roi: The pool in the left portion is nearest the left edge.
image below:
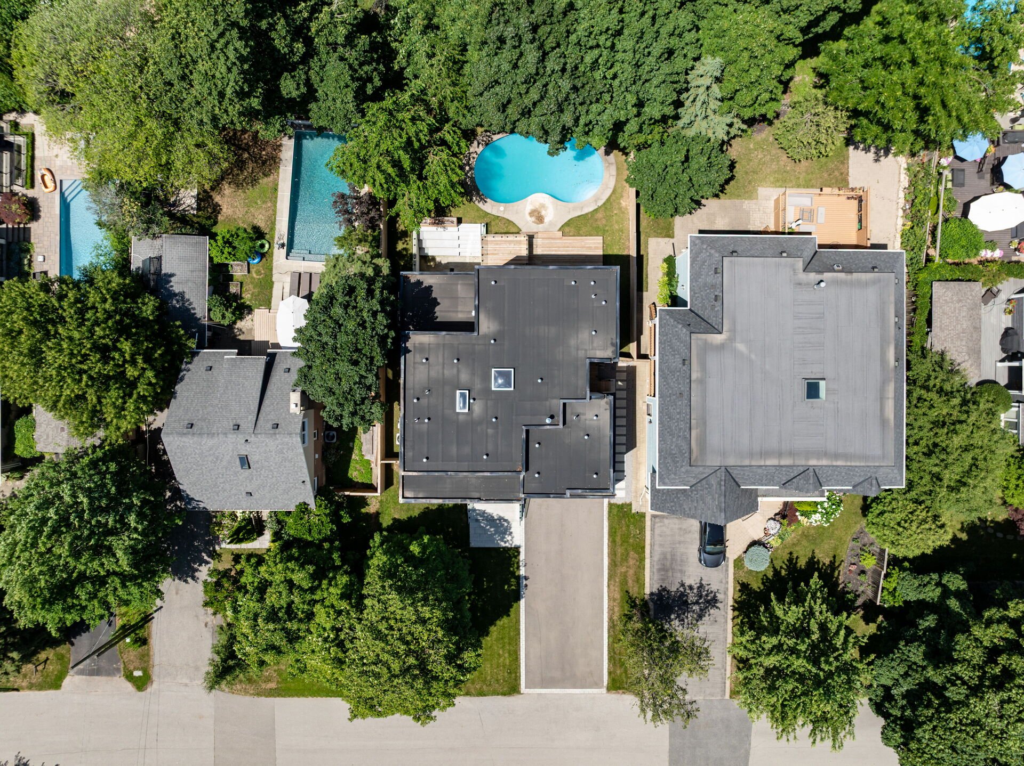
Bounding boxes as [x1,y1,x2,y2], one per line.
[58,177,120,292]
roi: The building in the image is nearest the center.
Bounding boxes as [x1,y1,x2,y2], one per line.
[400,266,619,504]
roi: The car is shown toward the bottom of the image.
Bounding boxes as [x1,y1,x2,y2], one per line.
[697,519,729,567]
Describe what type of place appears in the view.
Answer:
residential area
